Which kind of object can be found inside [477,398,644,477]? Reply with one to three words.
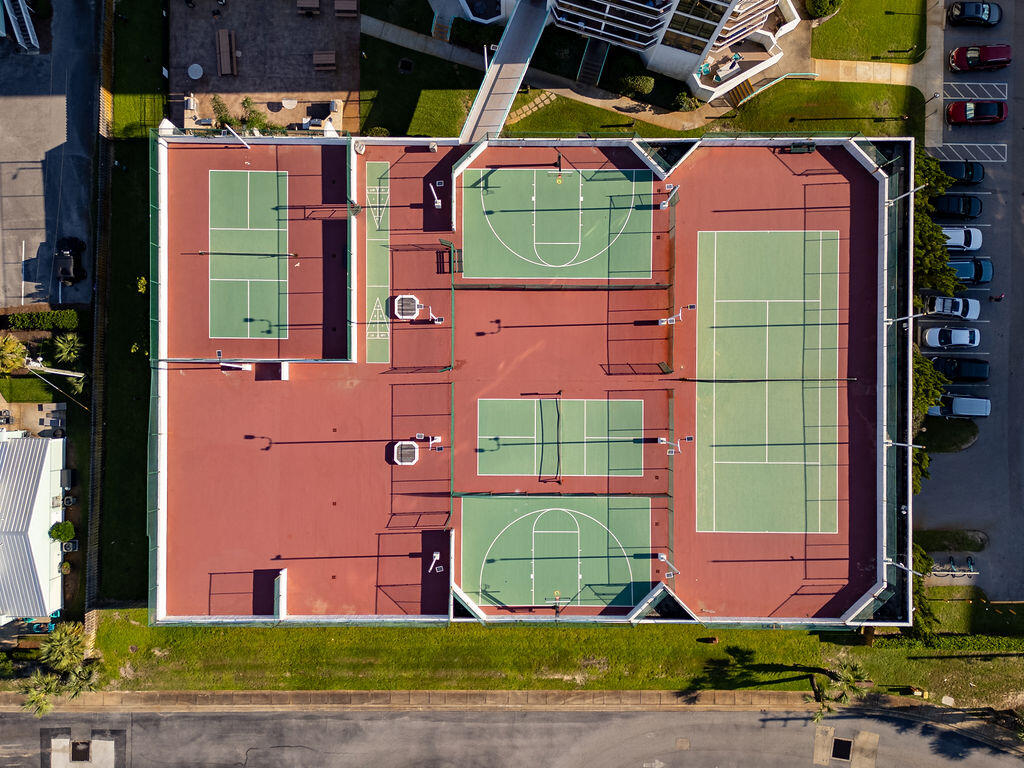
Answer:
sports court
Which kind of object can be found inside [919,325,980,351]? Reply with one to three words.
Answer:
car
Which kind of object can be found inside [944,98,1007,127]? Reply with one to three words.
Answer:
car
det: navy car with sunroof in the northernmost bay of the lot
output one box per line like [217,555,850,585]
[944,0,998,31]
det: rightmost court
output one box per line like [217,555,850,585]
[696,230,840,534]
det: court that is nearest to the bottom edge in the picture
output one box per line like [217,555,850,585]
[461,496,652,606]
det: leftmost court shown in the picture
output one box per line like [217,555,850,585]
[209,169,289,339]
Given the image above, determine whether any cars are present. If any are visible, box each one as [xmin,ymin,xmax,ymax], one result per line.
[938,225,983,252]
[932,393,996,421]
[946,42,1015,74]
[944,98,1007,127]
[919,325,980,351]
[951,256,994,284]
[923,192,982,220]
[928,356,995,383]
[944,0,998,31]
[928,159,985,187]
[921,294,980,321]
